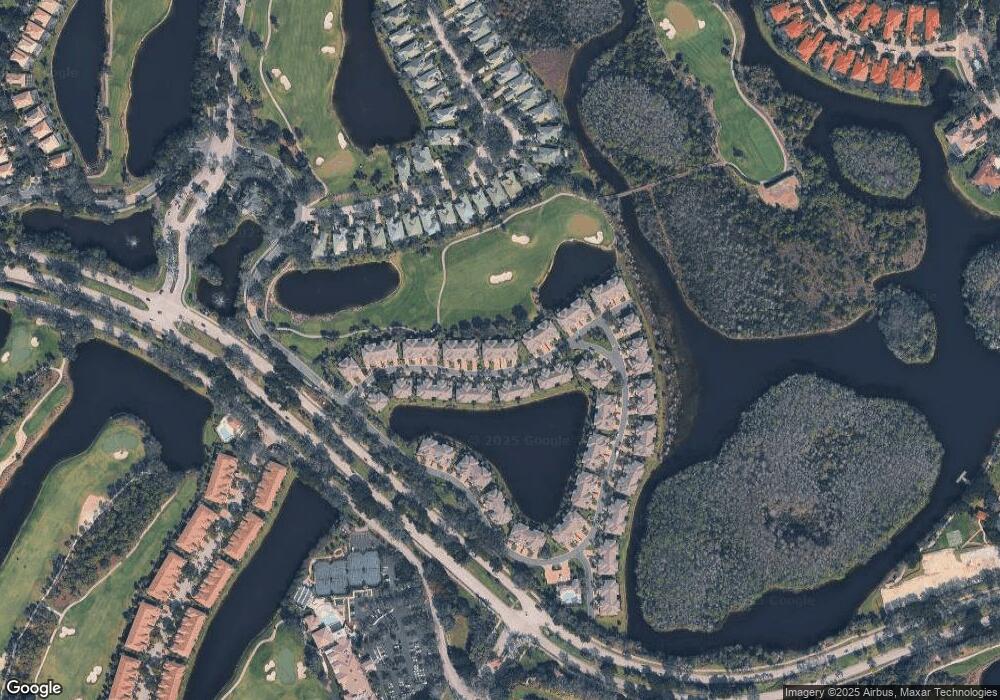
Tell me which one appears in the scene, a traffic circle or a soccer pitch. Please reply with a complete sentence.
Of the two, only a traffic circle appears.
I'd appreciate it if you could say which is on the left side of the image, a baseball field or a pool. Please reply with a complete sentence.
Visible on the left side of the image is a pool.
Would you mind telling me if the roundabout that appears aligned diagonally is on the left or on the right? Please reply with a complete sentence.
The roundabout that appears aligned diagonally is on the left side of the image.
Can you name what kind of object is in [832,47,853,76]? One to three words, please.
house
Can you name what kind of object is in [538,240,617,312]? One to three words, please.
pond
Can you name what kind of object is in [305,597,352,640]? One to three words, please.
swimming pool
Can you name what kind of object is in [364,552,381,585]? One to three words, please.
tennis court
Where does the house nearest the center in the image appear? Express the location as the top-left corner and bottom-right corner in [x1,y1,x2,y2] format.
[481,338,519,363]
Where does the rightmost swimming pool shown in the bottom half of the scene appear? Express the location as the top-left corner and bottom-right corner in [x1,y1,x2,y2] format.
[559,587,582,605]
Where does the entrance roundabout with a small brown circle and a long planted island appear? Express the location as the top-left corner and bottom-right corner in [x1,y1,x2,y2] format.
[164,168,226,236]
